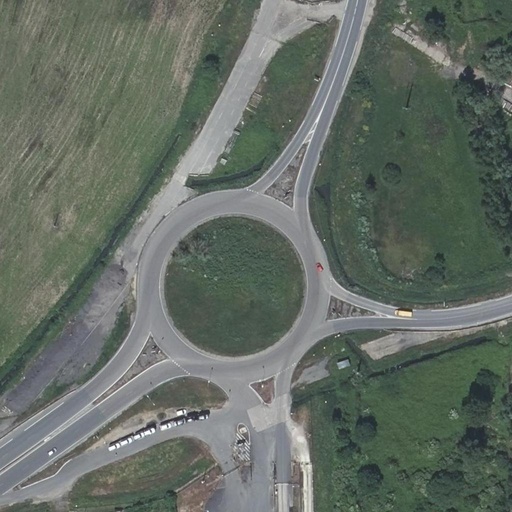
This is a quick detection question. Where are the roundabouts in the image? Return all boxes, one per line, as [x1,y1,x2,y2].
[84,182,362,420]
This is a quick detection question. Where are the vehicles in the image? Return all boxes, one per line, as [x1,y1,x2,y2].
[176,409,186,415]
[120,438,132,446]
[144,428,156,435]
[132,432,144,440]
[48,448,57,456]
[108,443,120,450]
[160,424,172,430]
[198,414,209,420]
[178,419,188,424]
[394,310,413,316]
[316,263,322,272]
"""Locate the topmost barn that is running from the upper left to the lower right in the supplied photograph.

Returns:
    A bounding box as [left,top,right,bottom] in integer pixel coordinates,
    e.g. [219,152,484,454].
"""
[392,26,440,64]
